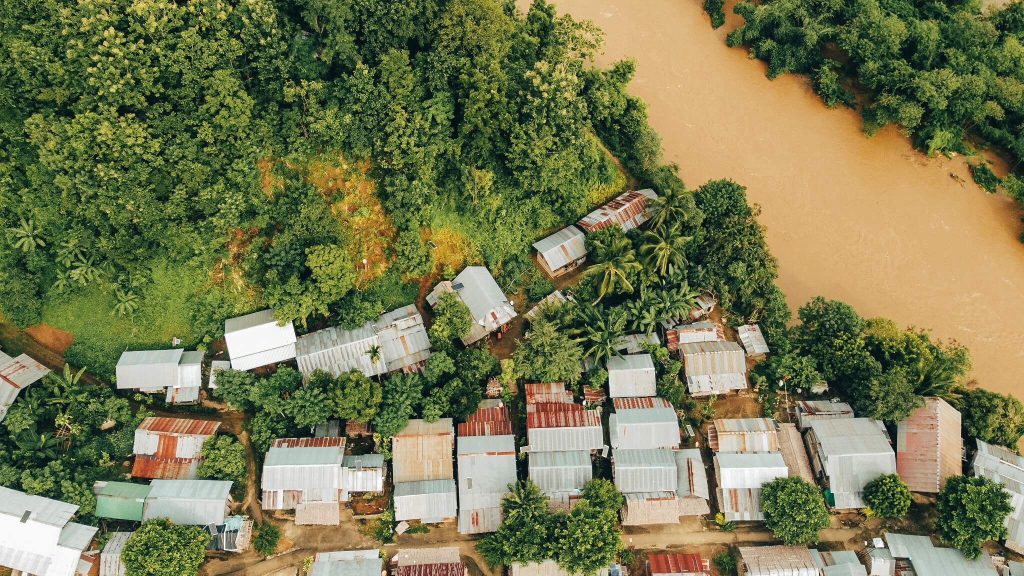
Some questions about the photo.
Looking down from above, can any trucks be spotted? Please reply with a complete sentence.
No, the picture doesn't show any truck.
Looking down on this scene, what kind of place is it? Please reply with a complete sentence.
The area seen from above is a residential area.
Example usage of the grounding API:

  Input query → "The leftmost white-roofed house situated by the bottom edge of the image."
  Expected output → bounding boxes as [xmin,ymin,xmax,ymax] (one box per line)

[0,487,106,576]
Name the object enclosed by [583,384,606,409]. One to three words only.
shed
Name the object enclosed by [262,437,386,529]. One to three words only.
house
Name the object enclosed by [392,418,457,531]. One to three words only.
house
